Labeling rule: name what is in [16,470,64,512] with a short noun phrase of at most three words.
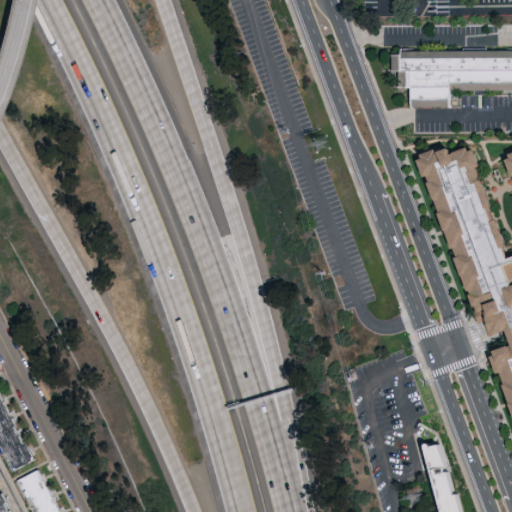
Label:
building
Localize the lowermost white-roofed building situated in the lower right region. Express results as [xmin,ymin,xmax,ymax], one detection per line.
[421,443,467,512]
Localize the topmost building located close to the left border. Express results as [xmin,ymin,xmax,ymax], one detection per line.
[0,393,35,468]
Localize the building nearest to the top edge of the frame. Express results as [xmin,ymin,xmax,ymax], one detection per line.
[391,47,512,108]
